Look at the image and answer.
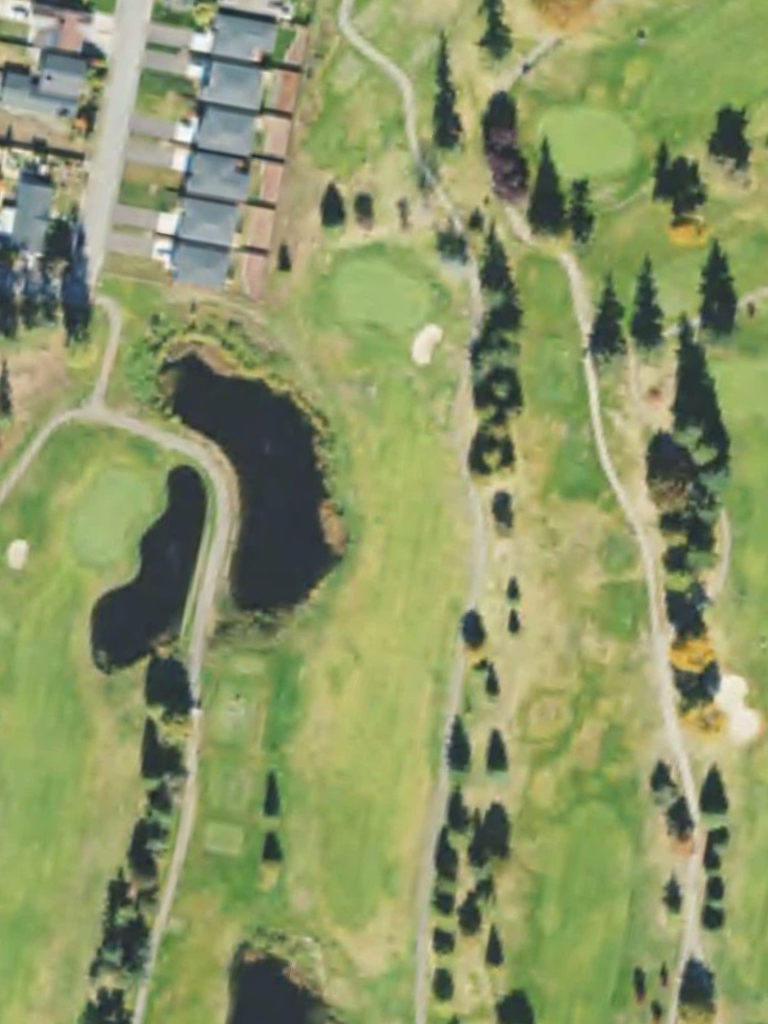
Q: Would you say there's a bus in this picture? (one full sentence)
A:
No, no bus can be seen from above.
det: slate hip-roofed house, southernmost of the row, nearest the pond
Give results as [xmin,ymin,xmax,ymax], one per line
[172,242,229,287]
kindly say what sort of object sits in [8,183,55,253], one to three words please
house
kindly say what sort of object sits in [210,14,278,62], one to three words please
house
